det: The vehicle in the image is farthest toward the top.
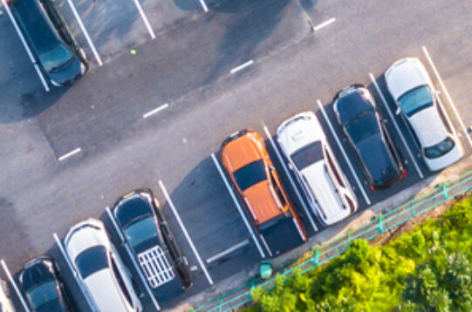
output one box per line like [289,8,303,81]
[6,0,89,89]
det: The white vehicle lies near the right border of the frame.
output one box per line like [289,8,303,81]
[385,55,464,175]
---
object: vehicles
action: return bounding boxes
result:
[6,0,89,89]
[113,187,197,311]
[277,110,359,231]
[64,217,144,312]
[333,81,411,194]
[19,252,85,312]
[0,279,20,312]
[221,126,308,261]
[385,55,464,175]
